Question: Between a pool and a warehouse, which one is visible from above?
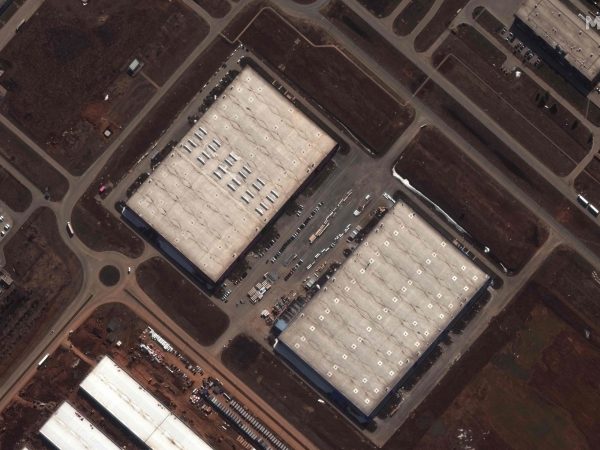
warehouse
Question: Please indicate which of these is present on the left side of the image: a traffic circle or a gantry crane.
traffic circle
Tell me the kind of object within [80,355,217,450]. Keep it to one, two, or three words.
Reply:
shed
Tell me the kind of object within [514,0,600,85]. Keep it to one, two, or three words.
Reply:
building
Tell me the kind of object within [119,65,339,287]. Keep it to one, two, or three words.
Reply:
warehouse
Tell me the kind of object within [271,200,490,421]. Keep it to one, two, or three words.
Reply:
warehouse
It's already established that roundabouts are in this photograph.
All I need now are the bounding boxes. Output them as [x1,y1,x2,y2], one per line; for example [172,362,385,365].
[84,251,135,301]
